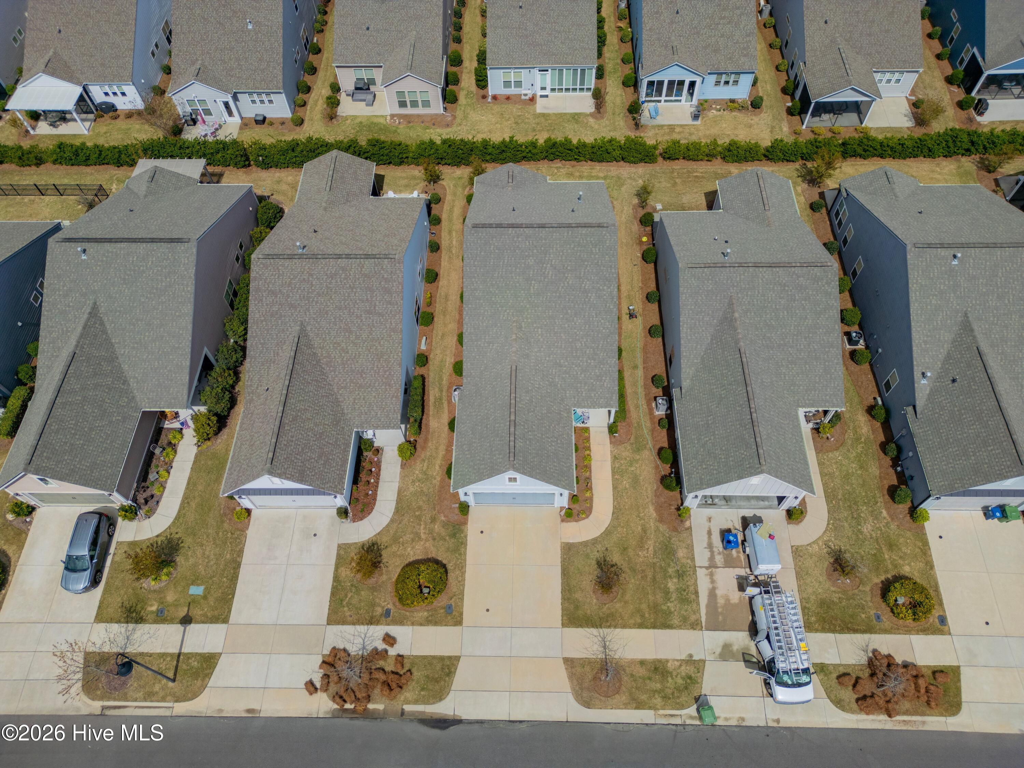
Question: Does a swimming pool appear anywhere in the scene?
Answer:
No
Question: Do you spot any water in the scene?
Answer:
No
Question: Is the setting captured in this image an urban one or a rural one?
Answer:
urban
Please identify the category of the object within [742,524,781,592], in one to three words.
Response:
trailer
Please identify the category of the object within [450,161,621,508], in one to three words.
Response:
house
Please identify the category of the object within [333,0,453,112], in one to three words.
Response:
house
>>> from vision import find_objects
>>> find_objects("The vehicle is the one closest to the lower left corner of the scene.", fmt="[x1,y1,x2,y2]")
[59,513,117,596]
